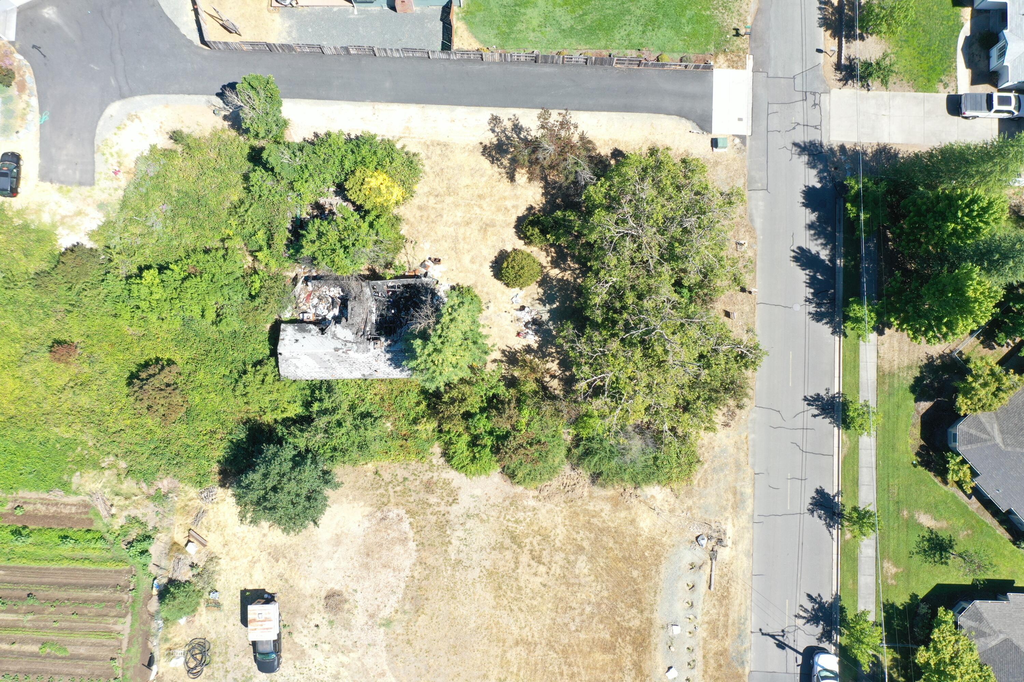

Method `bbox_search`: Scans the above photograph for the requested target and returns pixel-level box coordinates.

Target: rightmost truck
[960,88,1024,115]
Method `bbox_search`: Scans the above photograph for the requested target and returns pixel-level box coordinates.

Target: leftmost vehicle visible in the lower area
[248,593,283,675]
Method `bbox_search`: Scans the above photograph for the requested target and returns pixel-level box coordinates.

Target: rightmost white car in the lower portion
[815,653,844,682]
